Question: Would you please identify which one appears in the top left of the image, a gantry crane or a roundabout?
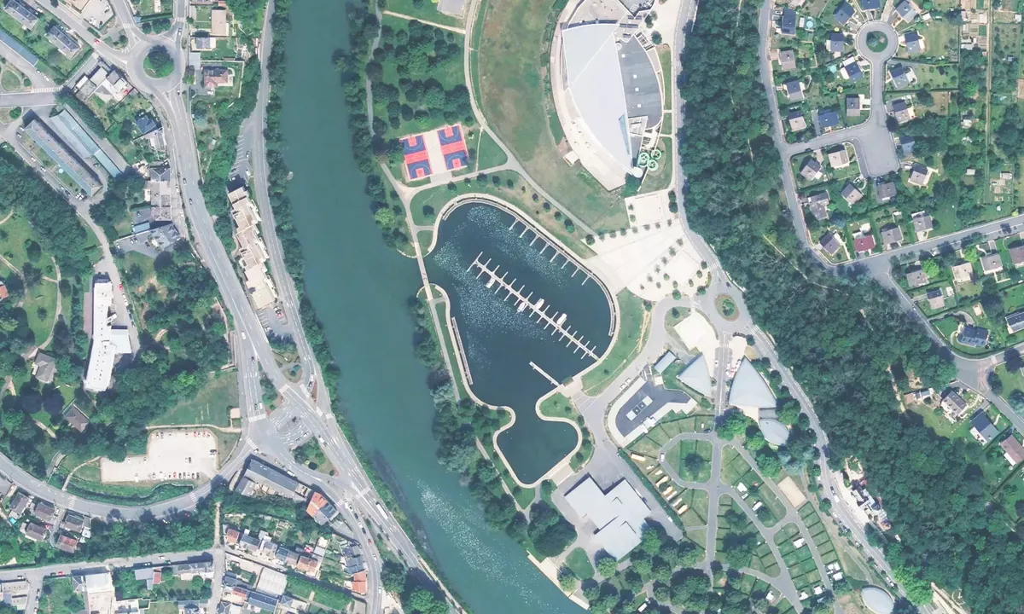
roundabout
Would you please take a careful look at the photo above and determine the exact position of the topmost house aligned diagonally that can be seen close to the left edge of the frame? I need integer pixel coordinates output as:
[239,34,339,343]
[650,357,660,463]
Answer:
[1,0,38,29]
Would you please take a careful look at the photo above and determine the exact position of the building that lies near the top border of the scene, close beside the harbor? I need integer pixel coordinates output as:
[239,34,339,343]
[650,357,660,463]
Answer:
[551,0,663,191]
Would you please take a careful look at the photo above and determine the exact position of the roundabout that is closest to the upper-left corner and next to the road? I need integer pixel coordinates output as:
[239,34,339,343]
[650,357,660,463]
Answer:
[131,32,187,89]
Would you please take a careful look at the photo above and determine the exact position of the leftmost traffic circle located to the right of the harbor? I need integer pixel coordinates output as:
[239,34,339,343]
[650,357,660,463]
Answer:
[704,286,748,330]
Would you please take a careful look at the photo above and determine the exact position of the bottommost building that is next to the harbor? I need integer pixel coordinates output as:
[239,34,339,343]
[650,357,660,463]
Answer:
[565,477,651,561]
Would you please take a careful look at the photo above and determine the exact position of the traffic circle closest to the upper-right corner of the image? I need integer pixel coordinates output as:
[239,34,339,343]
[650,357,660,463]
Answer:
[854,18,900,64]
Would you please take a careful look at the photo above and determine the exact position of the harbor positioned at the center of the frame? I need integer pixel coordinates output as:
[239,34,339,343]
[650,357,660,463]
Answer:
[424,194,621,490]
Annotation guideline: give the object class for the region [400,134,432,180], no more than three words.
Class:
basketball court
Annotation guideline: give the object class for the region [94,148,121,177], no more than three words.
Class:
shed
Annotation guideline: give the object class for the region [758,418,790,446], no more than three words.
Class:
building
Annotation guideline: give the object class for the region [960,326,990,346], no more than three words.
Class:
house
